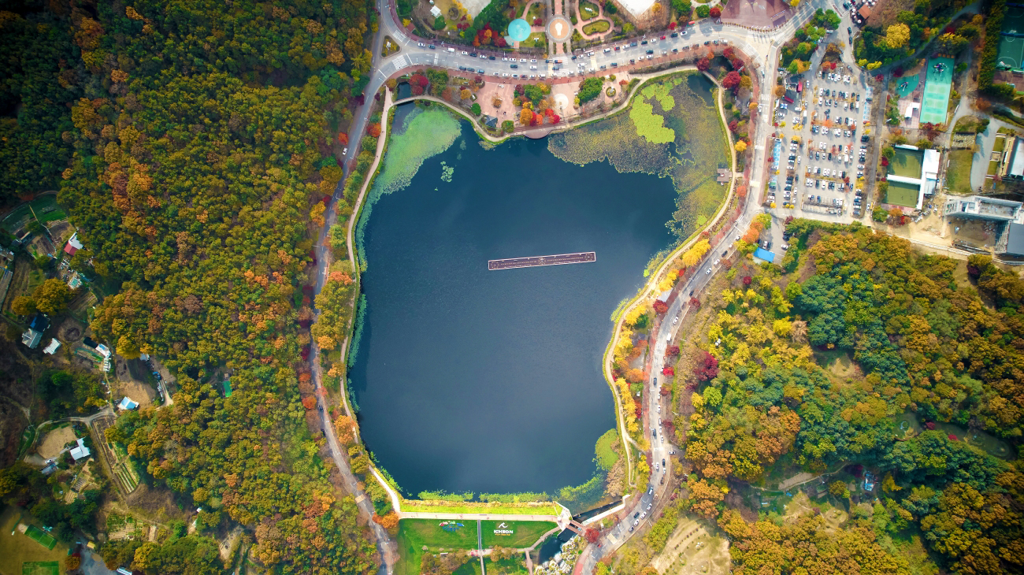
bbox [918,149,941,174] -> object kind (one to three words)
building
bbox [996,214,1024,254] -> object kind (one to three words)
building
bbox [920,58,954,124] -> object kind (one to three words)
sports court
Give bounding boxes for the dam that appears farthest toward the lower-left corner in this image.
[392,500,556,575]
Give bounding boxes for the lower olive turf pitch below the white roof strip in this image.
[882,181,920,207]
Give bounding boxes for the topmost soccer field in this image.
[888,149,922,179]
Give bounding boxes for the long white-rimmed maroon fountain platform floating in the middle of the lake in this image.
[488,252,596,270]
